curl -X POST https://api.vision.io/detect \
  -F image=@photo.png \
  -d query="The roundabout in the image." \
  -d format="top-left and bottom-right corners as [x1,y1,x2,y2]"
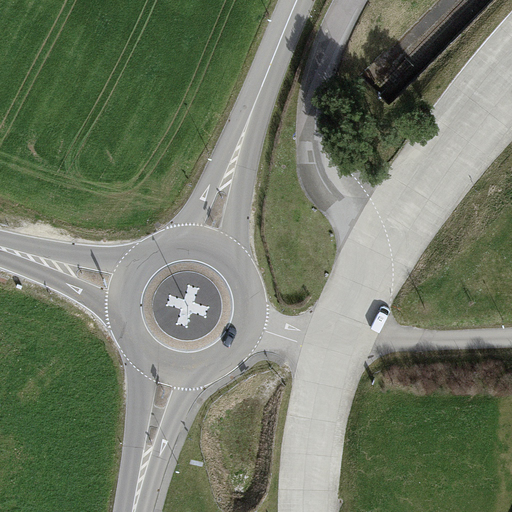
[106,224,270,390]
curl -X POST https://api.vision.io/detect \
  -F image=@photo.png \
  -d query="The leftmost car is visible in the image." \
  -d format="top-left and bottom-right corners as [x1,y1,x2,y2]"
[222,324,238,346]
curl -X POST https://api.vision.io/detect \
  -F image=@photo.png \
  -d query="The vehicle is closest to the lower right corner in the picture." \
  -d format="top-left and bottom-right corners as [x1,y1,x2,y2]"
[370,306,390,333]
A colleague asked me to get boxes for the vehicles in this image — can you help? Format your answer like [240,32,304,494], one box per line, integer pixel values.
[222,324,238,346]
[370,306,390,333]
